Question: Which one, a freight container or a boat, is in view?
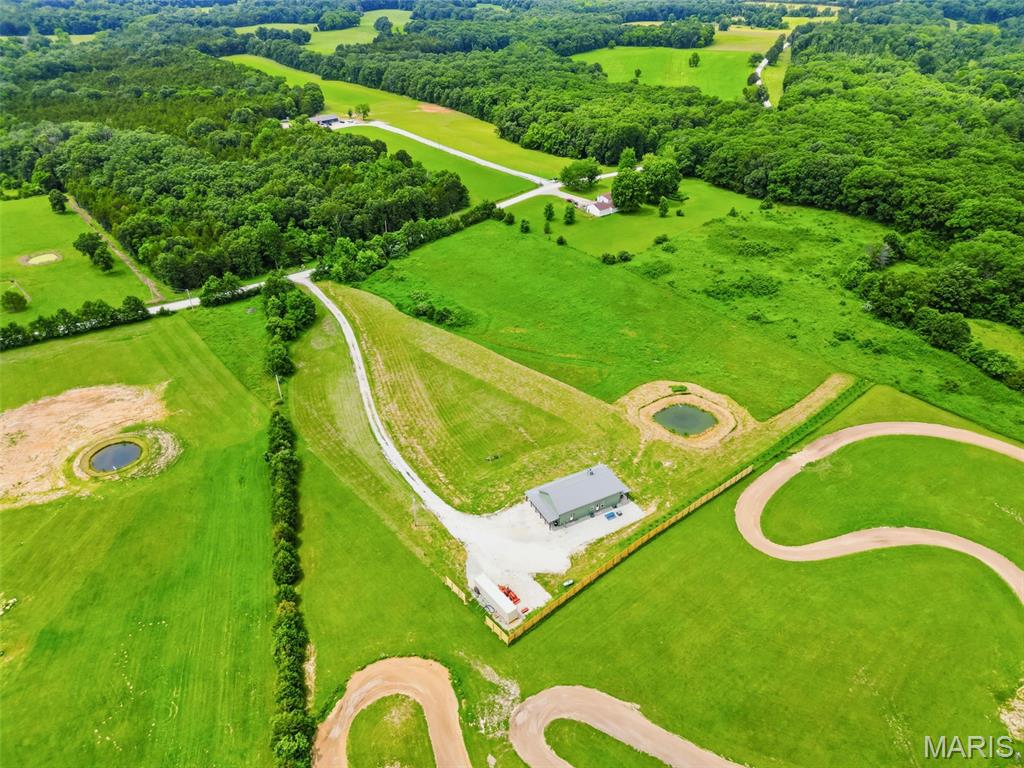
freight container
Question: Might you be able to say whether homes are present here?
Yes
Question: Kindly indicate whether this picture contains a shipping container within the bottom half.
Yes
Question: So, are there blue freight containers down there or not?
No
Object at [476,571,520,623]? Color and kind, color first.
white shipping container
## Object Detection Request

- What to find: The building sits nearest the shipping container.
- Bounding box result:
[524,465,630,531]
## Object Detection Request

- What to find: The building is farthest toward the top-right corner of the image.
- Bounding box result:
[586,194,614,217]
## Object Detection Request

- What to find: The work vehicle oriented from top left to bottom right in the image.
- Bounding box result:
[500,581,525,605]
